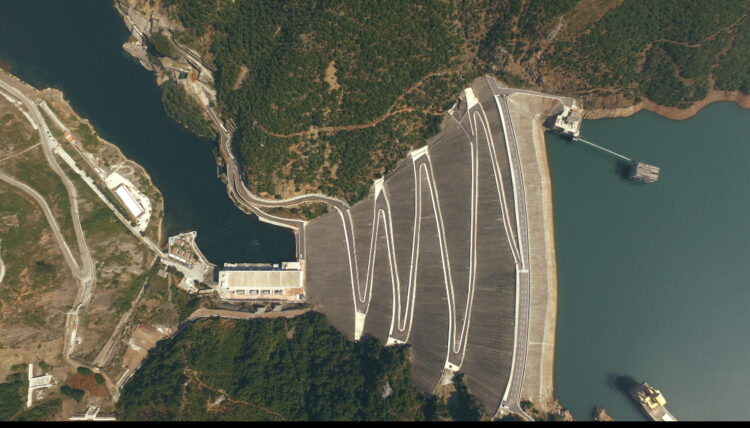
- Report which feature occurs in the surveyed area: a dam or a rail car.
dam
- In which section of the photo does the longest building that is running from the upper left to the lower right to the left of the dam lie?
left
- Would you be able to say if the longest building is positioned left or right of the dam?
to the left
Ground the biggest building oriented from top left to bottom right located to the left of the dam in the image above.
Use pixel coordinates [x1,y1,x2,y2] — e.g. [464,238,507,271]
[114,185,146,217]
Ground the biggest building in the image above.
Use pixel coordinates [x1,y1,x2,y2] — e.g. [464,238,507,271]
[218,262,305,301]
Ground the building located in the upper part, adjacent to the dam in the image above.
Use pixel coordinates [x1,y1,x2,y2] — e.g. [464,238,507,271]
[548,104,583,139]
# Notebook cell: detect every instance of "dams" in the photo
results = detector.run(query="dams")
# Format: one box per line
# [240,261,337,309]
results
[305,75,561,419]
